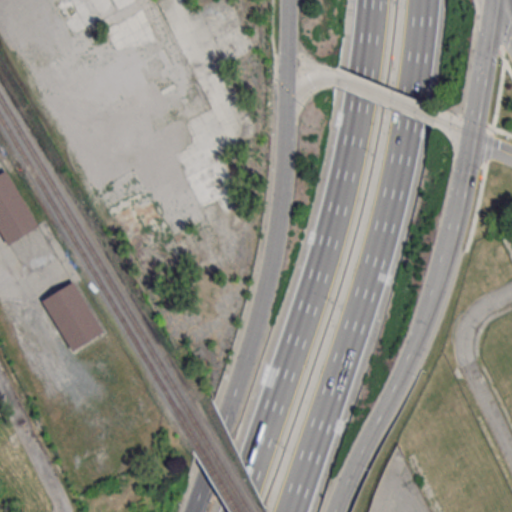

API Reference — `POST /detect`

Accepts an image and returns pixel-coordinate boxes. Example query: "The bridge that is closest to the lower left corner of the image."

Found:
[192,402,267,512]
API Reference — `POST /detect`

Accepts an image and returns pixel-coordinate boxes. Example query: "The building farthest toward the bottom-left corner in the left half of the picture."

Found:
[40,282,104,351]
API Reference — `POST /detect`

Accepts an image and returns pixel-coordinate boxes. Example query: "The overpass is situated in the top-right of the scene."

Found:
[332,66,434,128]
